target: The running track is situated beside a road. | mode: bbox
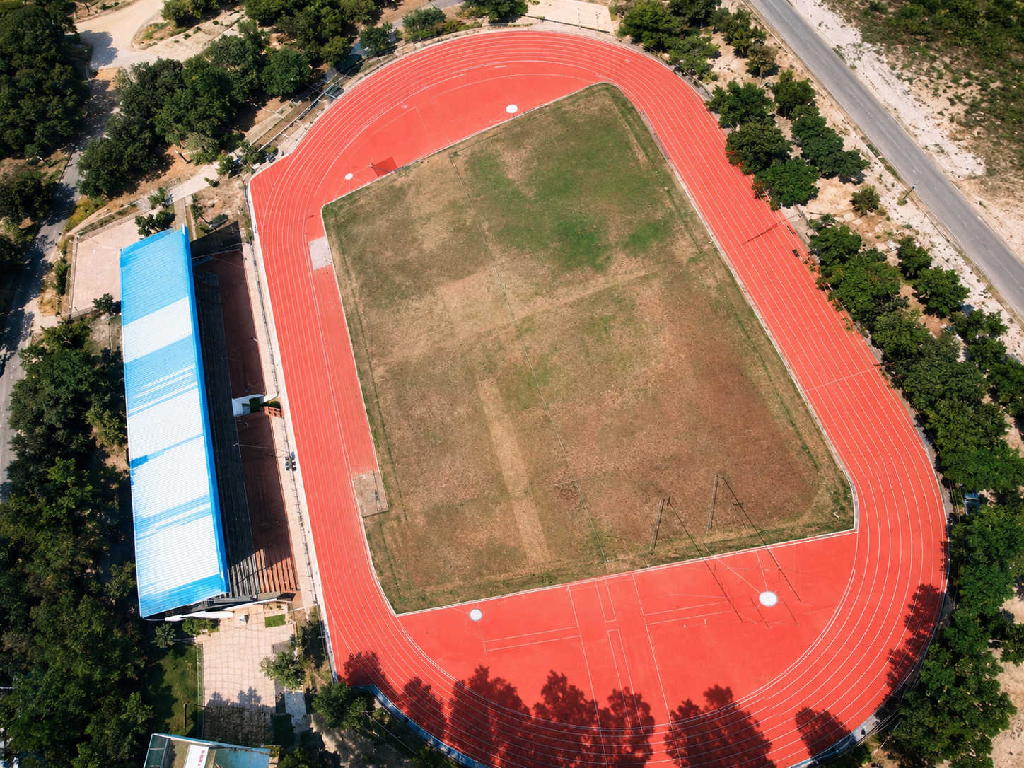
[250,30,949,768]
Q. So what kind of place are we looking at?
sports ground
